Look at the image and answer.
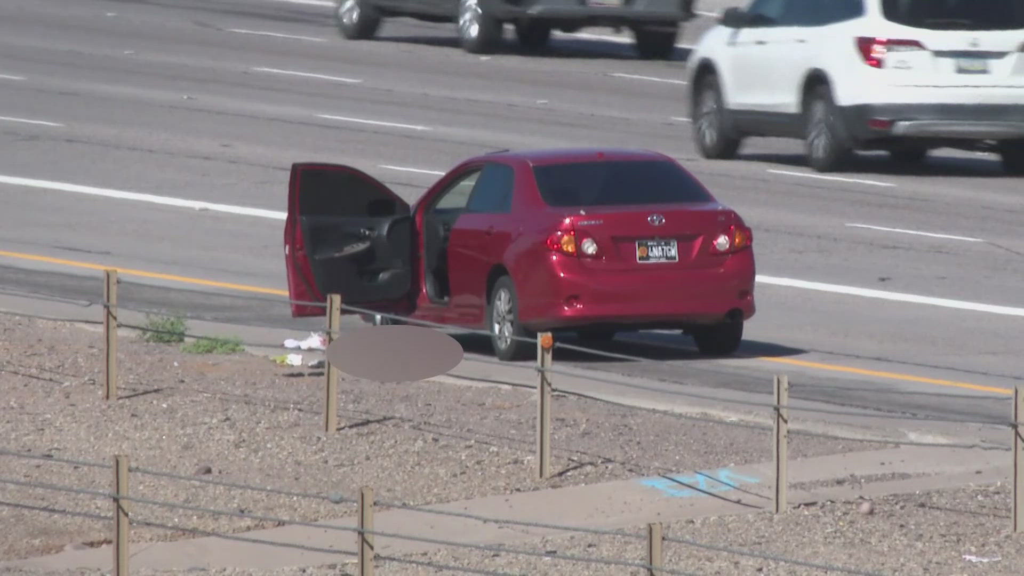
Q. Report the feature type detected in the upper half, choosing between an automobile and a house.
automobile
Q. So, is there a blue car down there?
No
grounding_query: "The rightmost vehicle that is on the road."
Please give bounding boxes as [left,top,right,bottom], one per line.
[687,0,1024,174]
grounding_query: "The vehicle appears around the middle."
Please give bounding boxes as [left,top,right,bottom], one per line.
[286,148,757,361]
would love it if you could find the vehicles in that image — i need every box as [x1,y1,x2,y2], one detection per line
[336,0,706,56]
[687,0,1024,174]
[286,148,757,361]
